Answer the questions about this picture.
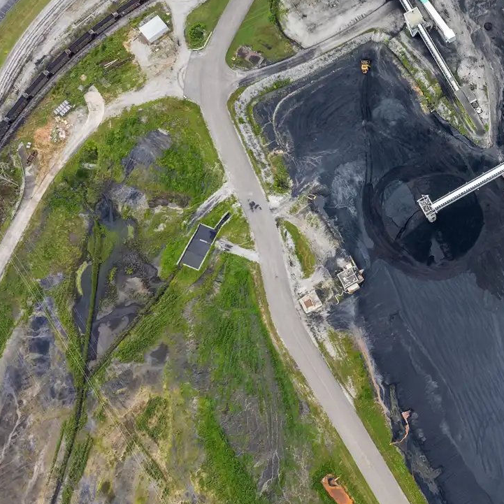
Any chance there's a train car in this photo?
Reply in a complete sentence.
Yes, there's a train car here.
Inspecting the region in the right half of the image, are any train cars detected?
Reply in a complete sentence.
No, the scene shows no train car in the right half of the image.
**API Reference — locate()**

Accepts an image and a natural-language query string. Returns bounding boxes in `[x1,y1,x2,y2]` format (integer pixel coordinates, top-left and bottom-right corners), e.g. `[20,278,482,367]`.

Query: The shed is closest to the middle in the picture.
[300,290,324,314]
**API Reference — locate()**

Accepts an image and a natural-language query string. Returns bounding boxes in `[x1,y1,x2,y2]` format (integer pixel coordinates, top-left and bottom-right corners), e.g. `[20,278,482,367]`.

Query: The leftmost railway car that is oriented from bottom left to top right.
[0,91,25,119]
